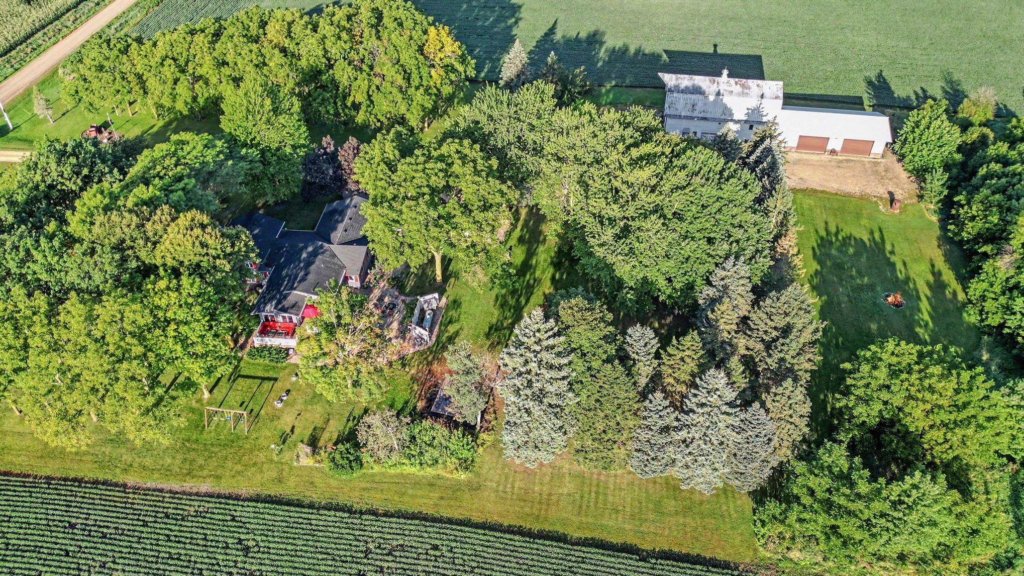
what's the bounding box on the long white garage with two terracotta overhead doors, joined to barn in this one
[781,105,893,160]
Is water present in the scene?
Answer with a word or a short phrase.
No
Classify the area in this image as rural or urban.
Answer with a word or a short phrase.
rural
